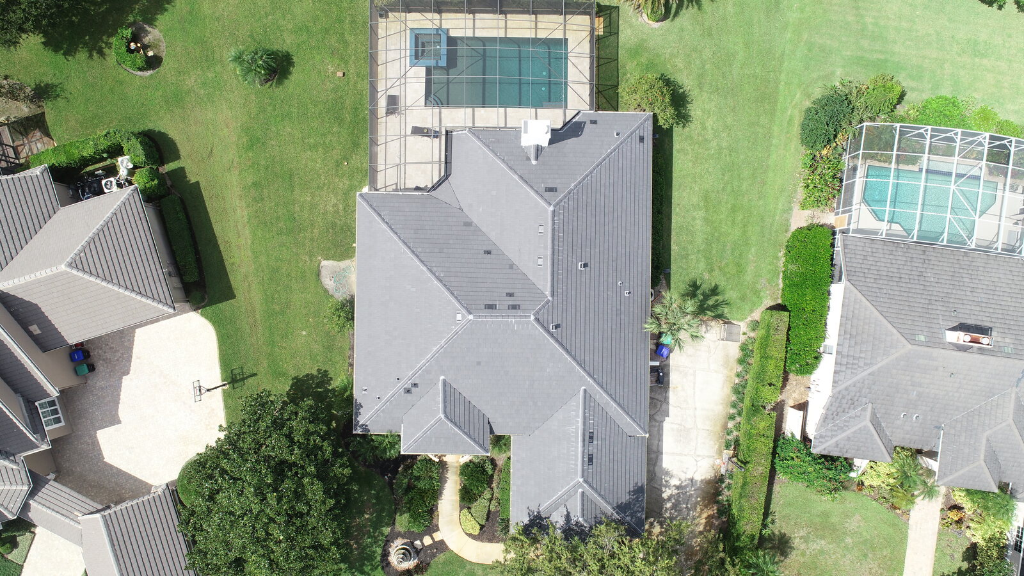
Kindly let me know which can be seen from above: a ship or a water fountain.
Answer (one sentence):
The one in the frame is a water fountain.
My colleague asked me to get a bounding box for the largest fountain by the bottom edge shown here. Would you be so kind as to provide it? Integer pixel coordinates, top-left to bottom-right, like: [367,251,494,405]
[386,539,418,572]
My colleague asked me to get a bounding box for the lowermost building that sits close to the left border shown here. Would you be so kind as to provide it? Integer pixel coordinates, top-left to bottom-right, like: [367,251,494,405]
[0,163,206,576]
